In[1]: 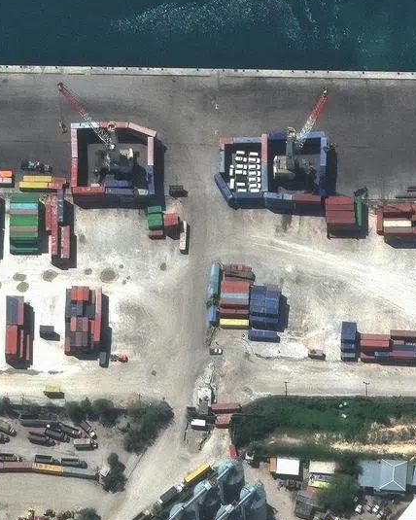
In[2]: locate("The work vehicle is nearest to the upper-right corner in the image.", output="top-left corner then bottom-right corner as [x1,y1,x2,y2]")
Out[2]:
[355,180,375,199]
